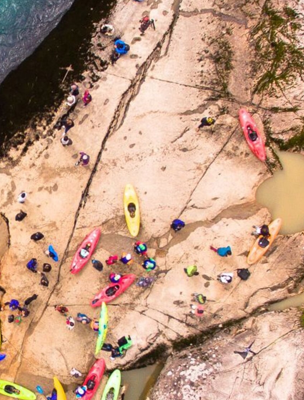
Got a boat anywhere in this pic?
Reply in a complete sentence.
Yes, a boat appears in the view.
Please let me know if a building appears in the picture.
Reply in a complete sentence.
No, no building can be seen from above.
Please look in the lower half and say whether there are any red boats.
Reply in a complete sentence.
Yes, I can see a red boat in the lower half.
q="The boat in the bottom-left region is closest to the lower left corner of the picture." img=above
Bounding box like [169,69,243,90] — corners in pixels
[0,380,35,400]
